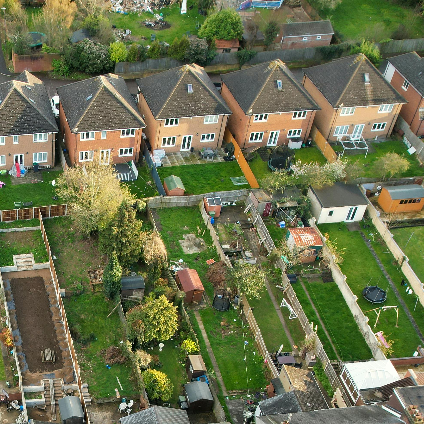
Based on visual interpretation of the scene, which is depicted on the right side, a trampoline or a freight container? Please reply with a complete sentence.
Looking on the right side, you will find a trampoline.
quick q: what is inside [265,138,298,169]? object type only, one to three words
trampoline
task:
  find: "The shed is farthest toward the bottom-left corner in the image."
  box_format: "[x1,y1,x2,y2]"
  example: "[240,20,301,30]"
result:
[55,389,86,424]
